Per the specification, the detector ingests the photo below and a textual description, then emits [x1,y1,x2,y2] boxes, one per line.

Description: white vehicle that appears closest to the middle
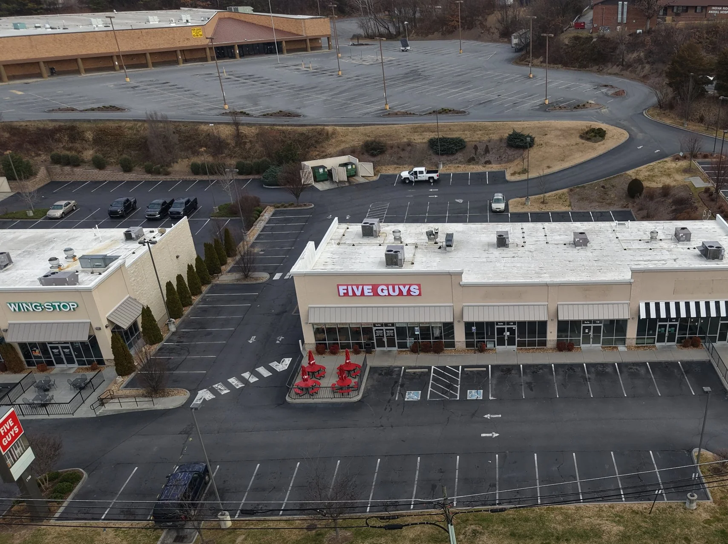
[400,167,440,182]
